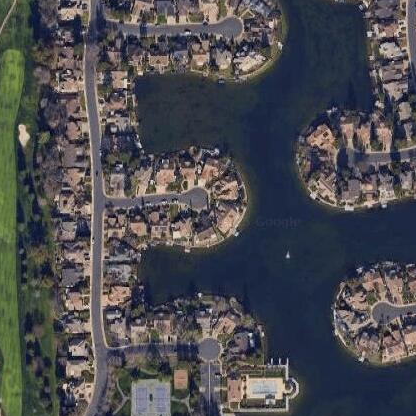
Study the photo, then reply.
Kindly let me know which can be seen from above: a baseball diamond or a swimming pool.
swimming pool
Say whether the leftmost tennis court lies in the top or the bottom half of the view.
bottom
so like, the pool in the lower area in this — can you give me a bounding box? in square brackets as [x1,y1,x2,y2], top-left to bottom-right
[242,375,285,399]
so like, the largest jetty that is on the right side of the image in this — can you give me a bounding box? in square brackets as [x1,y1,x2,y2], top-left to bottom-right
[240,358,299,411]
